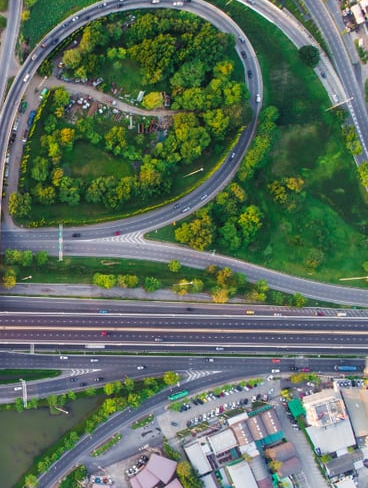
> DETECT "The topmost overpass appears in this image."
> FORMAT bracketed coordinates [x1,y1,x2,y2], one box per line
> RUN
[0,0,264,260]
